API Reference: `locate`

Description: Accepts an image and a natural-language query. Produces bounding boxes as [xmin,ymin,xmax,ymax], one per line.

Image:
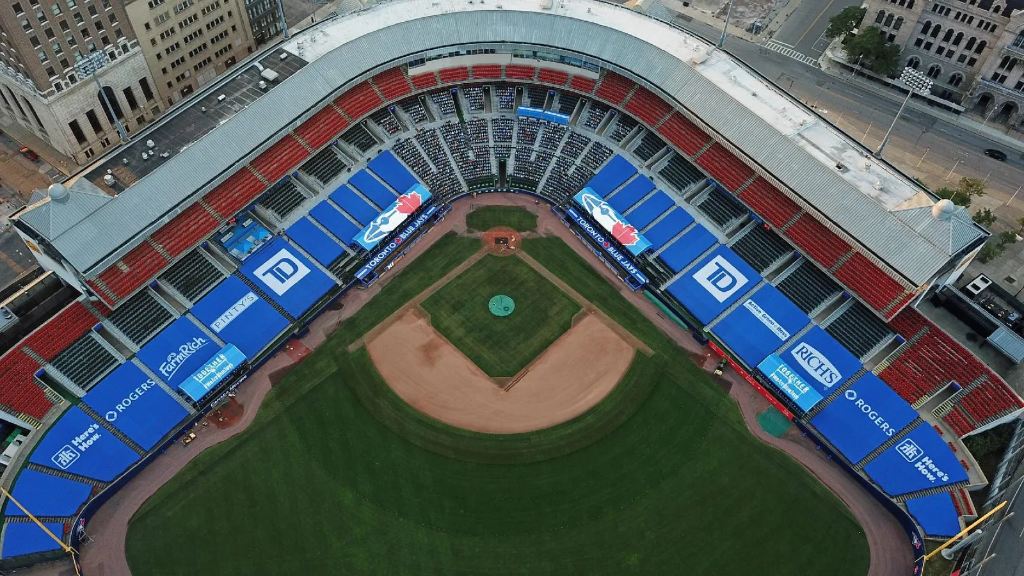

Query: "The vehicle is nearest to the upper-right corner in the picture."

[986,146,1007,159]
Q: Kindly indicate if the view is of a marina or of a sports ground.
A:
sports ground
